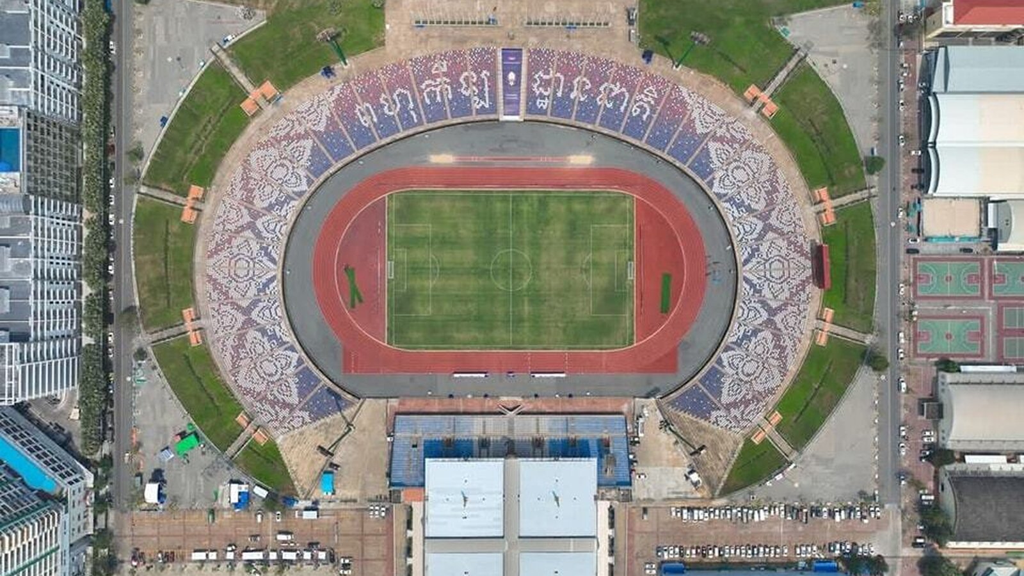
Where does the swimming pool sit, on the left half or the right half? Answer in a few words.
left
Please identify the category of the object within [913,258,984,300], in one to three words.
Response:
basketball court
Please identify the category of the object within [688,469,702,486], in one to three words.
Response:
vehicle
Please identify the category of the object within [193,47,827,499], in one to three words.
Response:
stadium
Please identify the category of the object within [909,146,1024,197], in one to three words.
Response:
building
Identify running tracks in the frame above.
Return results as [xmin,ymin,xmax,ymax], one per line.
[314,152,706,373]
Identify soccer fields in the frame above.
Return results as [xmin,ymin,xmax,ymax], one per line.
[386,189,635,351]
